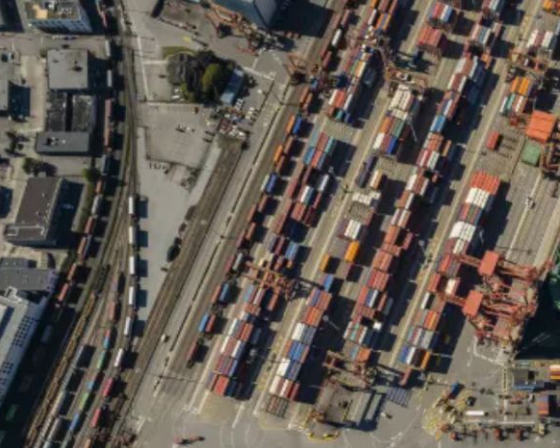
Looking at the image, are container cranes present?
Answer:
Yes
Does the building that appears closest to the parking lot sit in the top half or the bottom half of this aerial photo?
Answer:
top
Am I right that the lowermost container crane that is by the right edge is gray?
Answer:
No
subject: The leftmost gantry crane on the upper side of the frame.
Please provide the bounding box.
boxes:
[282,55,338,96]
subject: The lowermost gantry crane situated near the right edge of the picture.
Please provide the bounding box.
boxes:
[424,281,536,347]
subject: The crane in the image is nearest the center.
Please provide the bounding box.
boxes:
[244,259,302,297]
